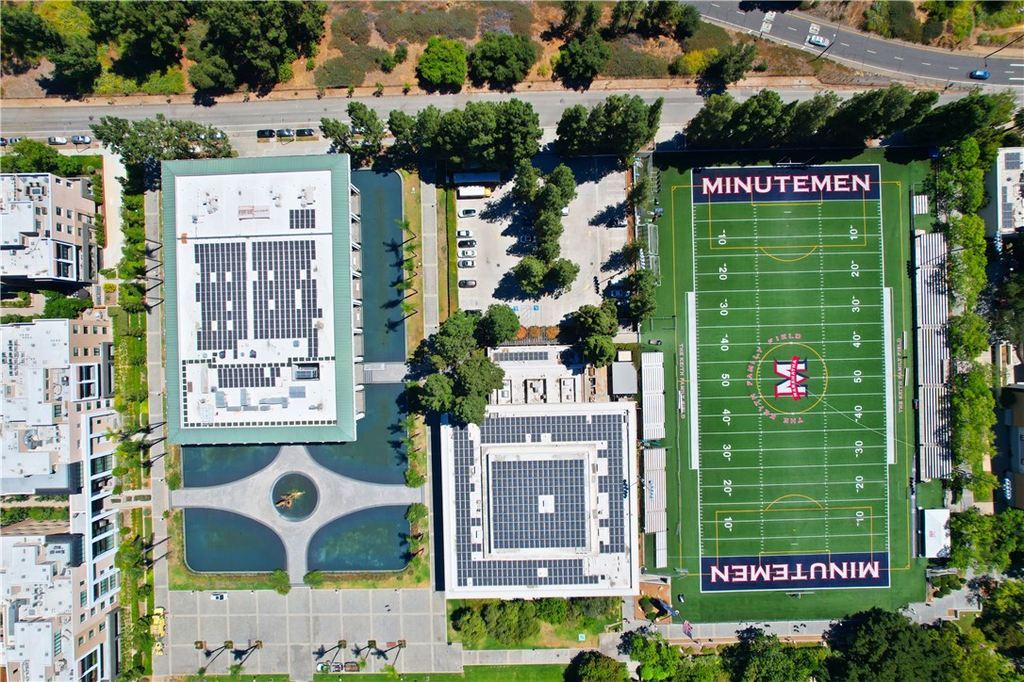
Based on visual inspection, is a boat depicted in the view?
No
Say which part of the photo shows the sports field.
right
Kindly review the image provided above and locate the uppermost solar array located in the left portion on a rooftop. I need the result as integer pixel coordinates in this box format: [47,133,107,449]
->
[290,209,315,229]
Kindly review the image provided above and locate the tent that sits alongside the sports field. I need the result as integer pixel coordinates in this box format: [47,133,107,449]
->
[918,506,950,558]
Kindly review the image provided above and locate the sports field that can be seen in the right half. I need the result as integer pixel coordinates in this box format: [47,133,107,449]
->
[633,143,935,626]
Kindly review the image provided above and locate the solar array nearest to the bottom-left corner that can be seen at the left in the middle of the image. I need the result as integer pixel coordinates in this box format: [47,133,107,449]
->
[218,368,280,387]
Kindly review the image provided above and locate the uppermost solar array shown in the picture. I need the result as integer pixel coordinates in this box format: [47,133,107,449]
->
[1006,151,1021,167]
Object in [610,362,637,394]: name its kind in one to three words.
shed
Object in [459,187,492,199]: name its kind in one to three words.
vehicle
